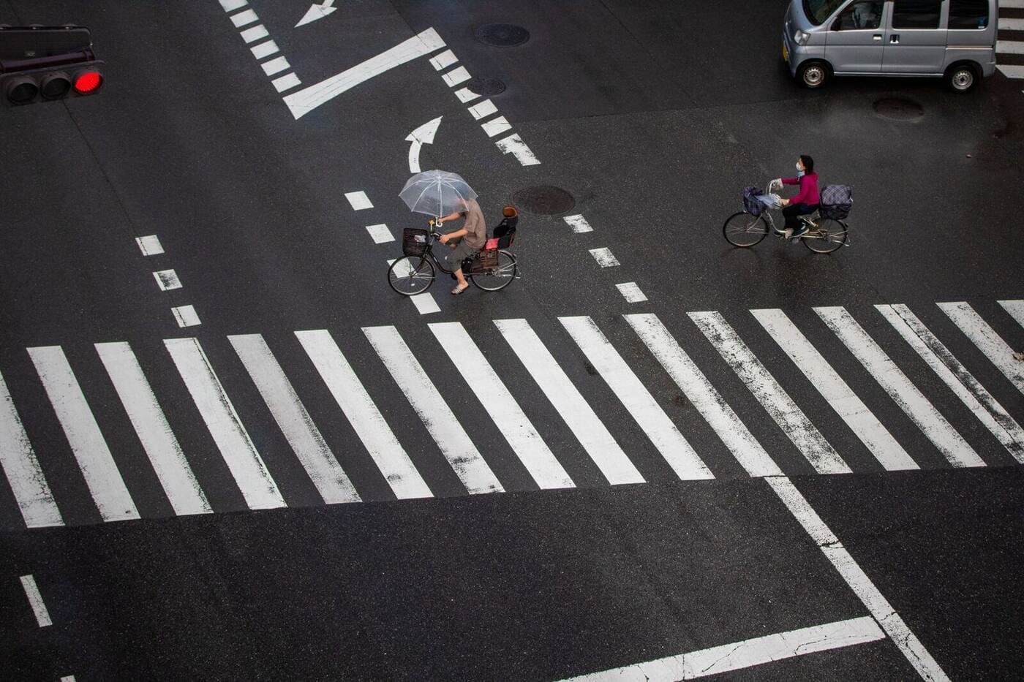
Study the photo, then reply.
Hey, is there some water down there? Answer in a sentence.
No, water can't be seen anywhere here.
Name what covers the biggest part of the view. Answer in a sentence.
The scene is dominated by paved ground.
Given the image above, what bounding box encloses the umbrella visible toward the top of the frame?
[402,169,481,225]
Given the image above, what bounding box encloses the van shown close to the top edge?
[780,0,998,95]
